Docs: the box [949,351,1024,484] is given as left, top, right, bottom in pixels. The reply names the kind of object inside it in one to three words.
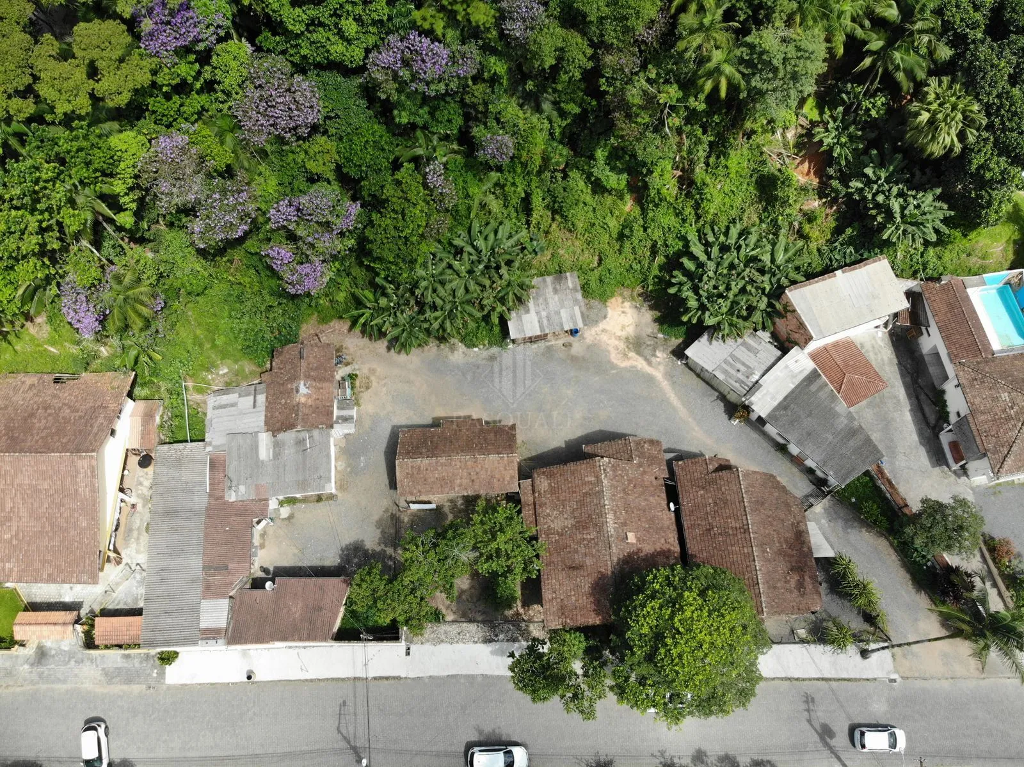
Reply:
house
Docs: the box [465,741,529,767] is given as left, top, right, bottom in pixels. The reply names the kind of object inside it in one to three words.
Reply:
car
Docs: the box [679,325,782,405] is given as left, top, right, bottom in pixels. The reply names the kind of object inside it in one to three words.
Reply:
shed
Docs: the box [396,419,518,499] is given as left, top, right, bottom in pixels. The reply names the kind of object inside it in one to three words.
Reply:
house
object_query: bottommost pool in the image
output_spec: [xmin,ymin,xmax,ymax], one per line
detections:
[966,281,1024,357]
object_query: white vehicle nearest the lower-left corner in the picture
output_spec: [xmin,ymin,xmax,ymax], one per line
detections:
[80,720,116,767]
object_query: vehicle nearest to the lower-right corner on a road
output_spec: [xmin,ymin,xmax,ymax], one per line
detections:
[851,725,907,757]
